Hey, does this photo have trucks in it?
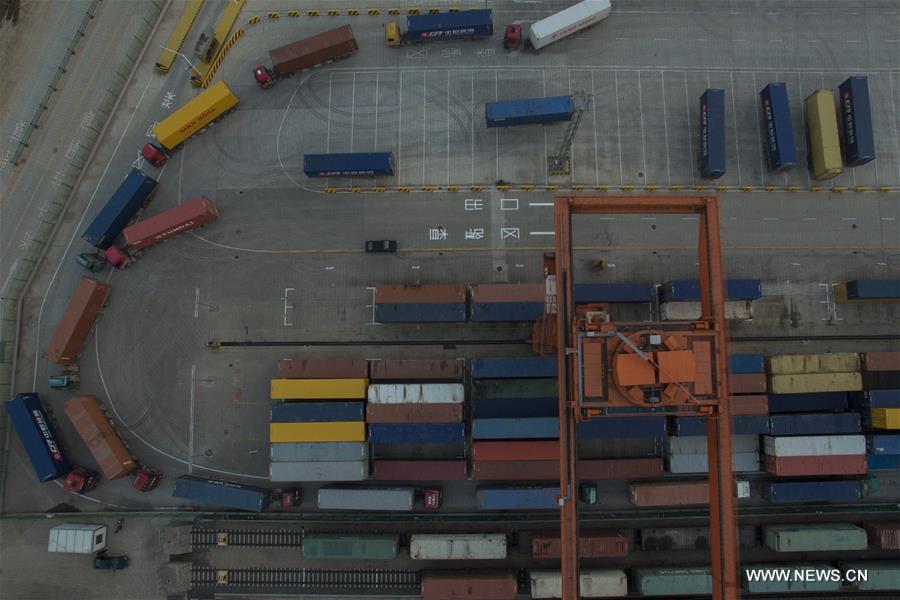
Yes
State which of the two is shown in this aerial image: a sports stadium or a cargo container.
cargo container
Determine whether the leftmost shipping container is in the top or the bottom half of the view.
bottom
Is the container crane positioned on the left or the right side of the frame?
right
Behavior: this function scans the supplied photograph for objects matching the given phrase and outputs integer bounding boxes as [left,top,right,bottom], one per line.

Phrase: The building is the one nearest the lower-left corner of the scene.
[46,523,105,555]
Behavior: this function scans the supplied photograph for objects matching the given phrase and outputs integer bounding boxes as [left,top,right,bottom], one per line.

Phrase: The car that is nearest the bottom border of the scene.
[92,553,129,571]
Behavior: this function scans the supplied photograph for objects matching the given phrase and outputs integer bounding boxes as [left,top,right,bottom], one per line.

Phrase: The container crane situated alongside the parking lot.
[526,198,746,600]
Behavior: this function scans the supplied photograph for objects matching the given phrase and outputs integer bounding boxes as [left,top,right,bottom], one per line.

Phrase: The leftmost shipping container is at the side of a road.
[4,392,69,483]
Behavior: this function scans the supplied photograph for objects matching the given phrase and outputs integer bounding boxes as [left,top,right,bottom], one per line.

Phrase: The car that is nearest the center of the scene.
[365,238,397,253]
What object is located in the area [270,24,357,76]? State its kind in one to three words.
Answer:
shipping container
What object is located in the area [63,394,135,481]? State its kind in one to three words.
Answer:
shipping container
